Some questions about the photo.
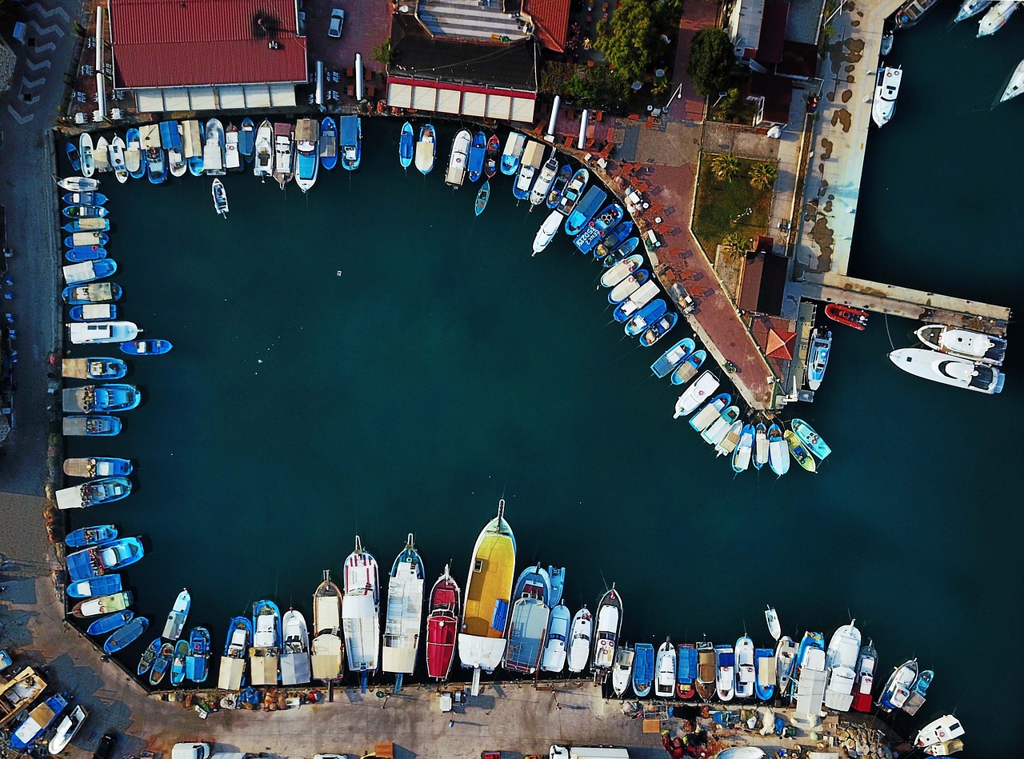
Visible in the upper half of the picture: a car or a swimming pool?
car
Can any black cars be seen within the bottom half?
Yes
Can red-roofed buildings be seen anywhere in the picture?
Yes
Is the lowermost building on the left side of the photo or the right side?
right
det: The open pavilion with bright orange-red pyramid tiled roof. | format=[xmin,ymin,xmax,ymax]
[762,328,797,360]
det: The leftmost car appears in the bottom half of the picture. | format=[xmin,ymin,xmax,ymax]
[93,736,114,759]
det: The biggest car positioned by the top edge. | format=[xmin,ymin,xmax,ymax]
[327,5,345,36]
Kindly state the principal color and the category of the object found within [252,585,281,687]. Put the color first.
white boat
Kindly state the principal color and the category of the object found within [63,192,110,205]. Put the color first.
blue boat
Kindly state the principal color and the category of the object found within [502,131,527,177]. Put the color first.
white boat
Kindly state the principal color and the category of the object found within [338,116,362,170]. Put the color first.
blue boat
